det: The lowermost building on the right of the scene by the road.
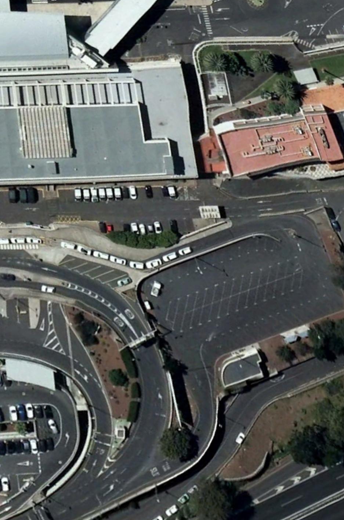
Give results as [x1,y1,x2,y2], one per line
[220,343,263,387]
